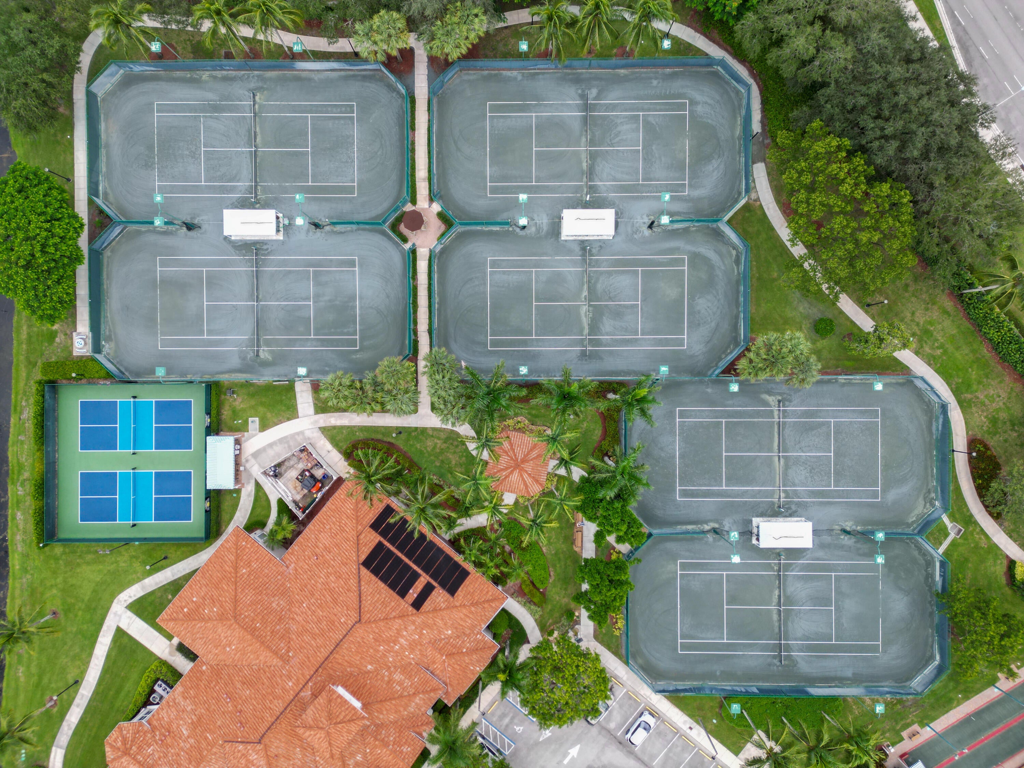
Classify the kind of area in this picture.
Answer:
sports ground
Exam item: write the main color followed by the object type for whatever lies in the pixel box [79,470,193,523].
blue sports court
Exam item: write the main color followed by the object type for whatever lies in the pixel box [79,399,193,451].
blue sports court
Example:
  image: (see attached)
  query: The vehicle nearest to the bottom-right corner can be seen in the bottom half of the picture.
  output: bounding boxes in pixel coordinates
[624,711,656,748]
